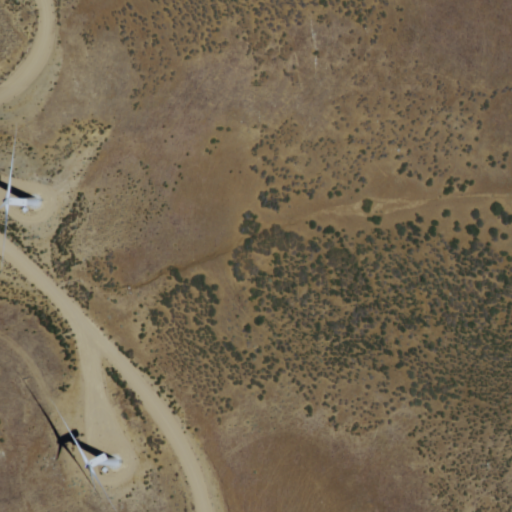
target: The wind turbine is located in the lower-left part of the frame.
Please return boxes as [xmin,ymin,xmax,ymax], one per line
[54,408,124,506]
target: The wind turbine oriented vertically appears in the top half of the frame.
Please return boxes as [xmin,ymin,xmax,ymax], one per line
[0,134,46,245]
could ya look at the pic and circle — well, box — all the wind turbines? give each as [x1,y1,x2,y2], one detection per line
[0,134,46,245]
[54,408,124,506]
